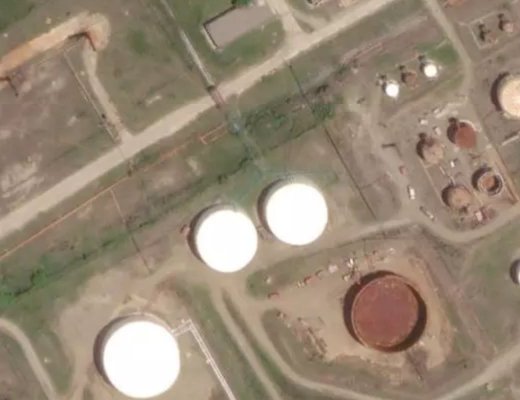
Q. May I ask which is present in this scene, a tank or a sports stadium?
tank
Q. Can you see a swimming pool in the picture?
No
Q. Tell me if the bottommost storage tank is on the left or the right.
left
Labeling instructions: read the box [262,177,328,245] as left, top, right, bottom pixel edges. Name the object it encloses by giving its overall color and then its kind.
white storage tank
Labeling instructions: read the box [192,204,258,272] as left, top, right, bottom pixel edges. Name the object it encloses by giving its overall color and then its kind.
white storage tank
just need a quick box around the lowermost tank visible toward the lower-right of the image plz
[348,271,427,350]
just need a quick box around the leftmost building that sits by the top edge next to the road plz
[200,0,275,50]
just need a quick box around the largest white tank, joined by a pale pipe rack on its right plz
[101,313,181,397]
